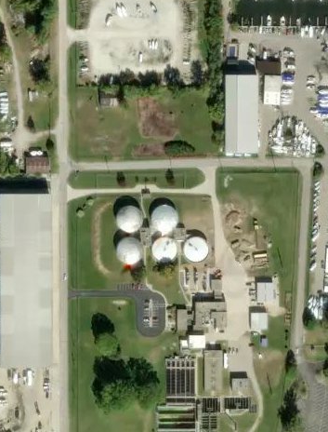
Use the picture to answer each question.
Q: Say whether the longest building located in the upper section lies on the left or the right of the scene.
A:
right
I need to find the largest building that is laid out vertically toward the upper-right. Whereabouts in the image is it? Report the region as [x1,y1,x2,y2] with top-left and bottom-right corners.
[226,74,259,155]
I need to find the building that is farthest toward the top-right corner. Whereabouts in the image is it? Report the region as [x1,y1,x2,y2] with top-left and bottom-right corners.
[257,59,280,74]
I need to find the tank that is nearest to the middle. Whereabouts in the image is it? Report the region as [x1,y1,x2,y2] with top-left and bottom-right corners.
[150,204,179,232]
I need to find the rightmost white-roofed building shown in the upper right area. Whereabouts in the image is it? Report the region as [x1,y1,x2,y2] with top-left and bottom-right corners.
[265,75,280,104]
